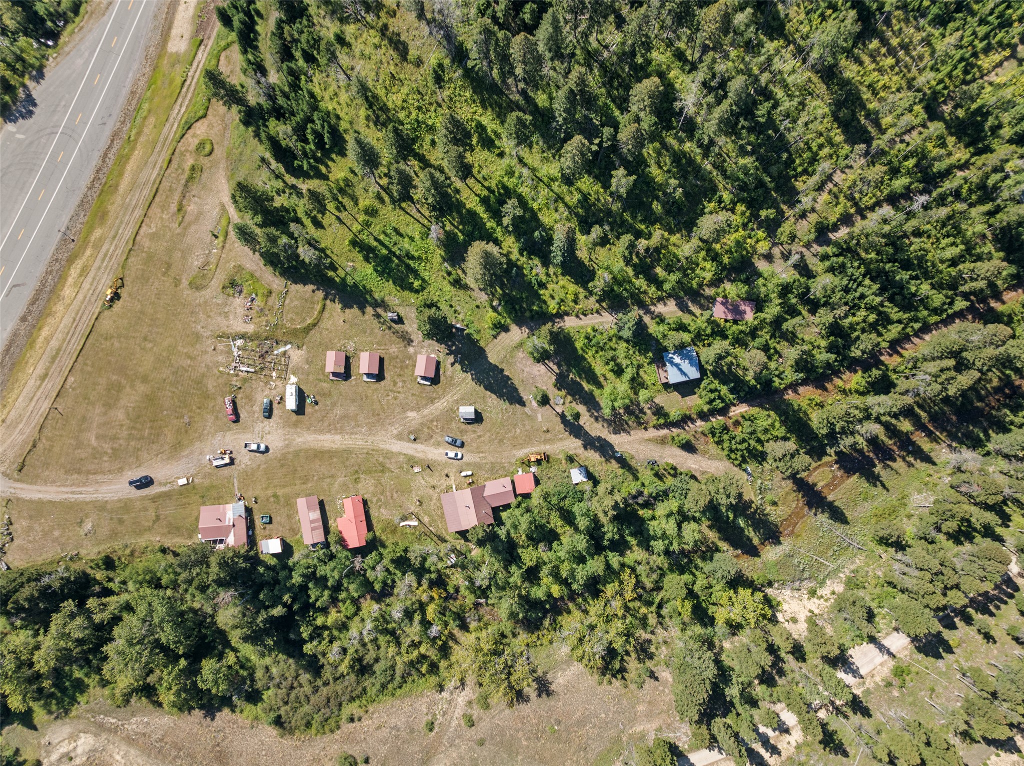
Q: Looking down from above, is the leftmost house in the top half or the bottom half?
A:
bottom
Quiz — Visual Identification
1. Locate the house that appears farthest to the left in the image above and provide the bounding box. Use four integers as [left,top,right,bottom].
[199,503,250,548]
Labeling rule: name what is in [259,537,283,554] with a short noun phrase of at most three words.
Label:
shed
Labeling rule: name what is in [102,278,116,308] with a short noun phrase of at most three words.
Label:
work vehicle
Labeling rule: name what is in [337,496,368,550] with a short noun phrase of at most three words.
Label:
house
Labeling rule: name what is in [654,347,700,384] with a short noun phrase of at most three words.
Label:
building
